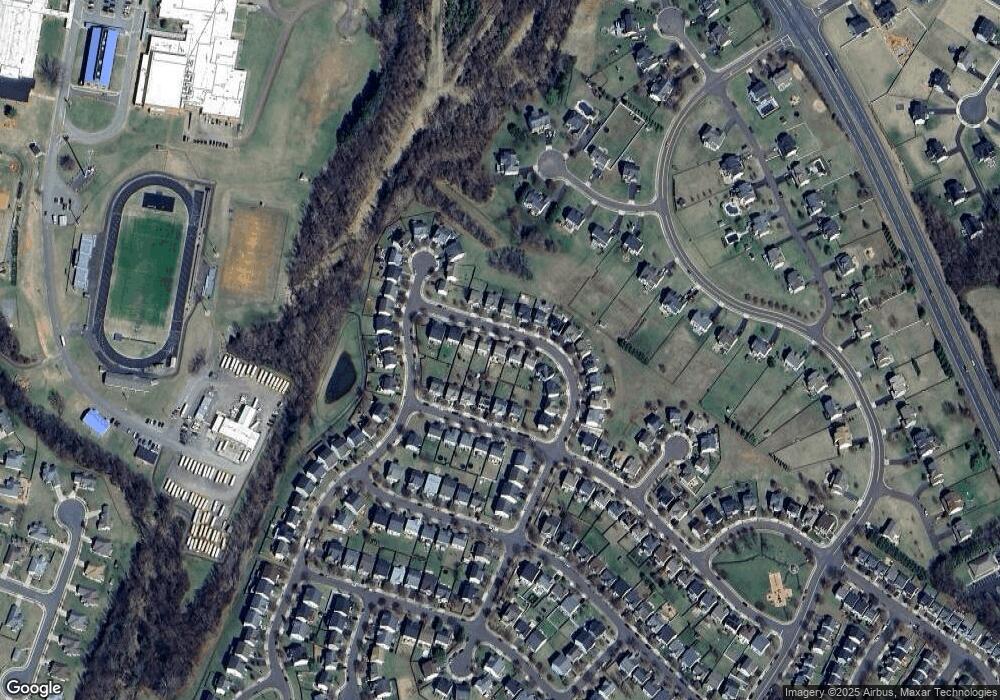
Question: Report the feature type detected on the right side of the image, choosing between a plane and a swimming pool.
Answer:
swimming pool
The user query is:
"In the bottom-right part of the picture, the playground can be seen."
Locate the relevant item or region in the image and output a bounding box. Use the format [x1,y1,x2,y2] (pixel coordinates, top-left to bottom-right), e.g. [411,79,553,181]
[768,571,792,607]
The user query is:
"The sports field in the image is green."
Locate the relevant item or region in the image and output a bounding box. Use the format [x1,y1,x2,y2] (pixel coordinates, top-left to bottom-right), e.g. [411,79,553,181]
[109,216,183,329]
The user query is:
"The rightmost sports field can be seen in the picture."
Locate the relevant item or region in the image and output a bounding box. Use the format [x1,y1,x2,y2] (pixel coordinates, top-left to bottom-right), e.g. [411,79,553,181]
[219,204,288,303]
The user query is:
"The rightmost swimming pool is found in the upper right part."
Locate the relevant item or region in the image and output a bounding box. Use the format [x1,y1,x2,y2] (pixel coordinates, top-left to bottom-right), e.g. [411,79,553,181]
[809,158,827,177]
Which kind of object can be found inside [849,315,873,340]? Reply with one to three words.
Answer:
house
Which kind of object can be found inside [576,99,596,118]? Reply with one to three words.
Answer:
swimming pool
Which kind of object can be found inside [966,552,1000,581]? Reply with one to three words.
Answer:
building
